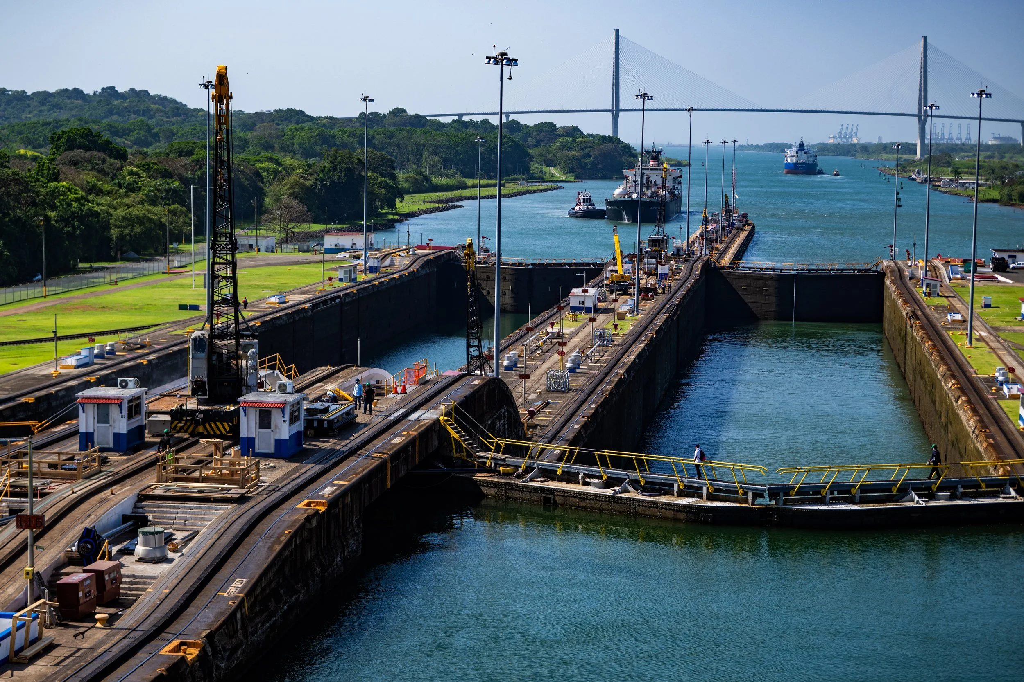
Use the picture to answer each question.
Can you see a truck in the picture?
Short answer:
Yes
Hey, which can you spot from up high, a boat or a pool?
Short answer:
boat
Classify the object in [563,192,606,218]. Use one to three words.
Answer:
boat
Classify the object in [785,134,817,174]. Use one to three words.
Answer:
ship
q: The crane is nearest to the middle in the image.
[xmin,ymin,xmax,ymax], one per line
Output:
[461,223,510,373]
